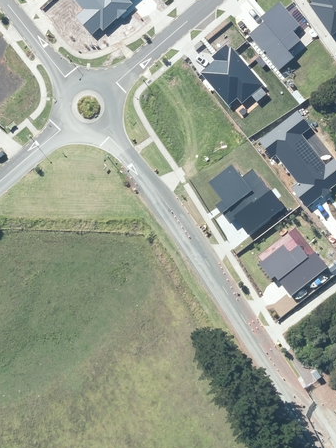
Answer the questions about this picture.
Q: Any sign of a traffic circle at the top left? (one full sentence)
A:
Yes, the scene does show a traffic circle at the top left.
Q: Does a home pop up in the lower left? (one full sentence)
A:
No, no home appears in the lower left.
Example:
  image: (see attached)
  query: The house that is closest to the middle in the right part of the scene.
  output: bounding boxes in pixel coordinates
[209,164,285,236]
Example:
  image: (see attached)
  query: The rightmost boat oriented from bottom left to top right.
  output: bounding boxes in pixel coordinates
[308,276,329,289]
